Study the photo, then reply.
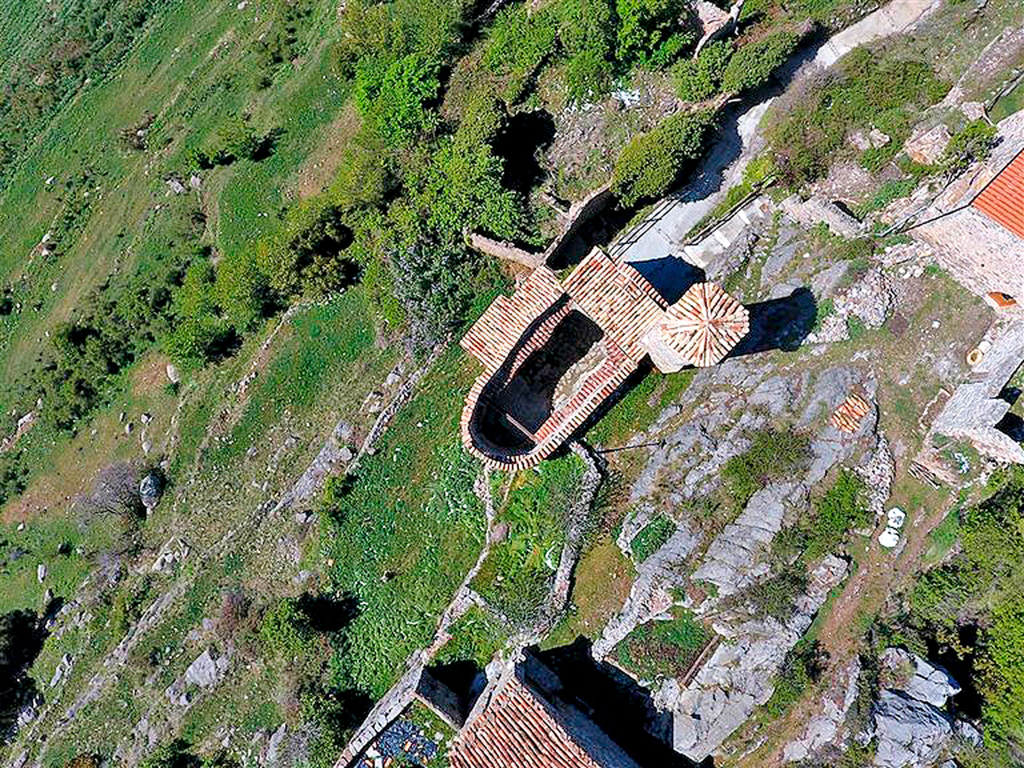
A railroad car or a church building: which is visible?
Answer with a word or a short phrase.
church building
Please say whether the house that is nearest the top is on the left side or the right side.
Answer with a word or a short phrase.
right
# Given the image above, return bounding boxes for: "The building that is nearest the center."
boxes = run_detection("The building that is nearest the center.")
[459,245,672,472]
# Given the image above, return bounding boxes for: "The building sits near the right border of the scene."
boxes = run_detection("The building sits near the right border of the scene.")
[902,121,1024,319]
